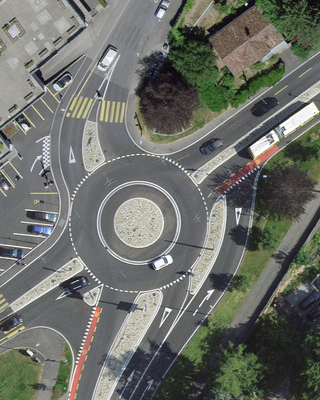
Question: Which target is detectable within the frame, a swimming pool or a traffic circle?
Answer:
traffic circle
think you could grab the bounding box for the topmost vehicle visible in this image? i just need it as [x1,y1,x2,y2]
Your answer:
[154,0,170,20]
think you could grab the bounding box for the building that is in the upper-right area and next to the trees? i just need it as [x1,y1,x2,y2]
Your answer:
[210,5,286,77]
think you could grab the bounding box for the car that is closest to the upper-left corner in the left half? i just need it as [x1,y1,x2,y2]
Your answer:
[53,72,74,90]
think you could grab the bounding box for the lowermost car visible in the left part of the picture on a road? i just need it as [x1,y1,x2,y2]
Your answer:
[0,314,24,331]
